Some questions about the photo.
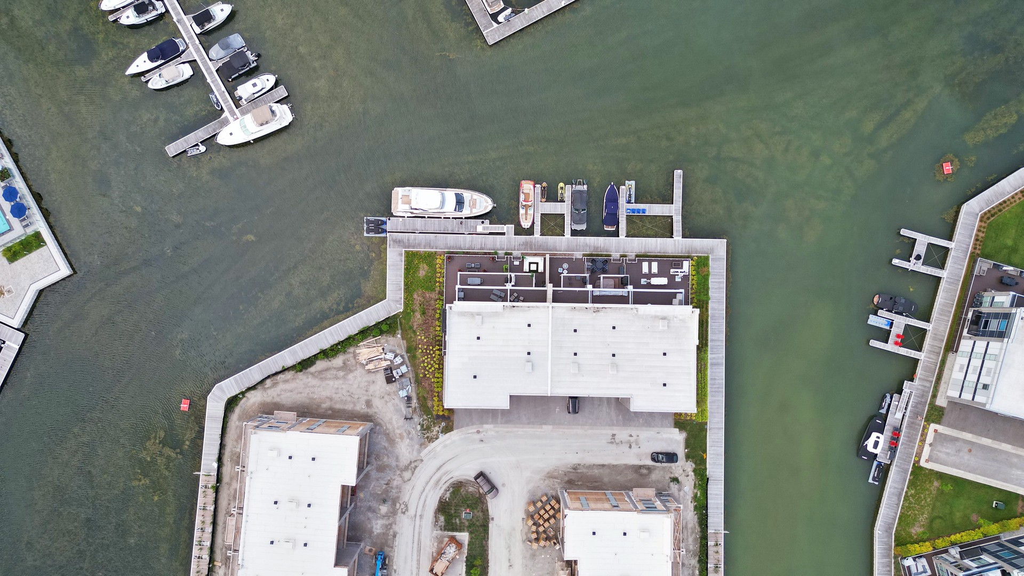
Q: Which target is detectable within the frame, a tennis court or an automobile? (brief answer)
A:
automobile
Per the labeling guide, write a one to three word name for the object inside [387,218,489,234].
pier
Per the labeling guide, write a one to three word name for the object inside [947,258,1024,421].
house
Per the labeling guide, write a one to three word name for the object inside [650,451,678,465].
car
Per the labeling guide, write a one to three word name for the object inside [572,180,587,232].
boat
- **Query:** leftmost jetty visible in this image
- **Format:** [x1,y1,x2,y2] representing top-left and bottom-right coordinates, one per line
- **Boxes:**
[0,320,29,397]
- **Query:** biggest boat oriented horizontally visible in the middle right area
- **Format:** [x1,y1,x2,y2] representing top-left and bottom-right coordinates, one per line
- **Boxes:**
[870,294,917,316]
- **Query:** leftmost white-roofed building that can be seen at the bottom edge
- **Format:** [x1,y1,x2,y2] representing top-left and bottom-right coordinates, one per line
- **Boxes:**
[224,411,381,576]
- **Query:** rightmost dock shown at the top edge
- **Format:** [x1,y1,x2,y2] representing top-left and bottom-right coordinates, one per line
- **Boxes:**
[465,0,578,46]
